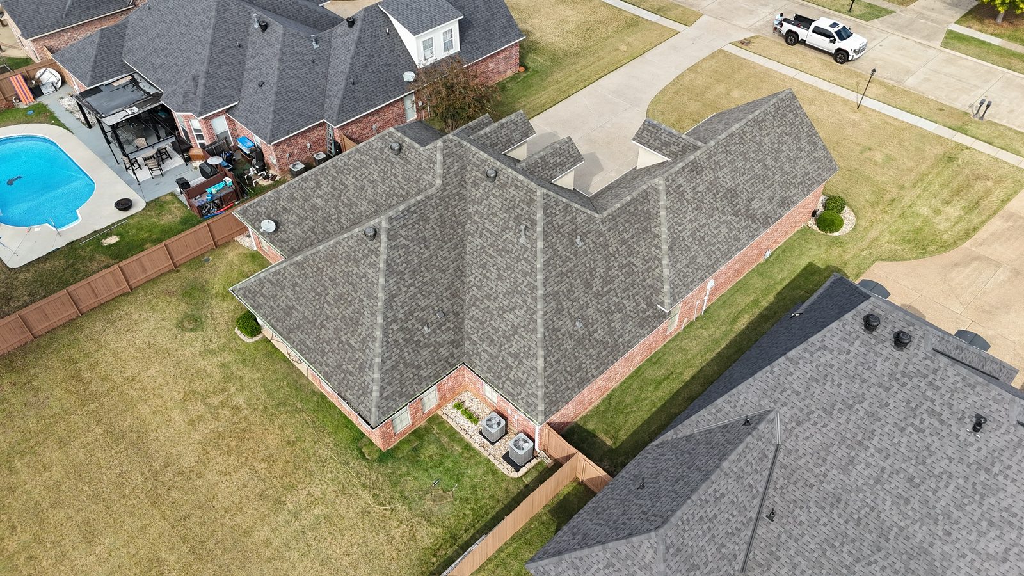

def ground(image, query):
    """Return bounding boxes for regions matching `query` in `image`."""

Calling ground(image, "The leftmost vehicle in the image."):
[781,15,871,64]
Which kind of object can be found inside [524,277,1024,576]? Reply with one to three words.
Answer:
house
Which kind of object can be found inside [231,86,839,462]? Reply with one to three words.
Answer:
house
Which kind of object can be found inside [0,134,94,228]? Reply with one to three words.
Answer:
swimming pool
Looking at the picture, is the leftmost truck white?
Yes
